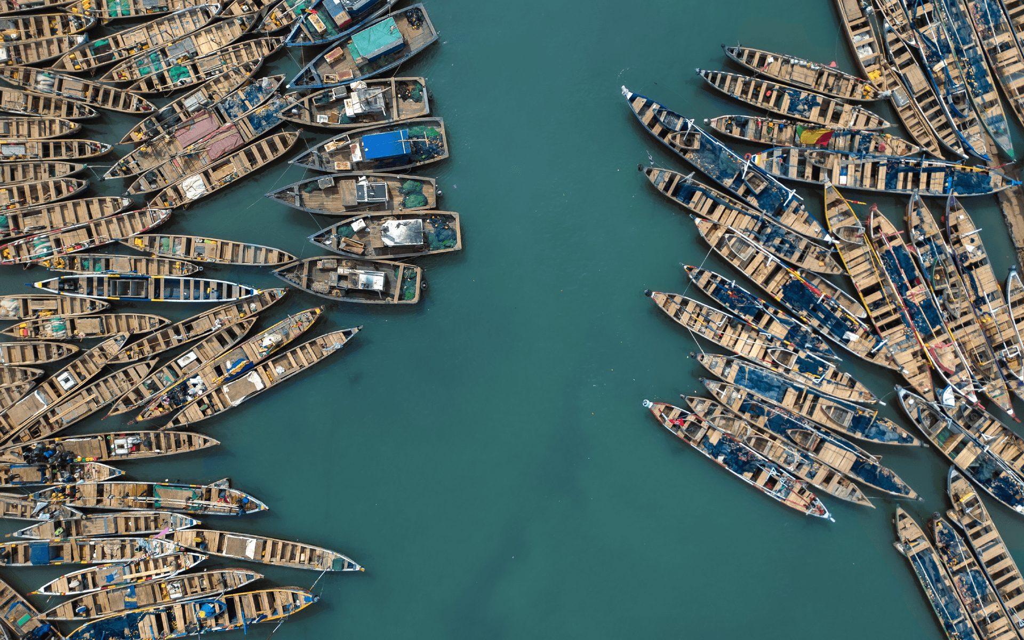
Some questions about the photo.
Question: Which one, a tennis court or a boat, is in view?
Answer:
boat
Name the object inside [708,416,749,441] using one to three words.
boat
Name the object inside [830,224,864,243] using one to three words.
boat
